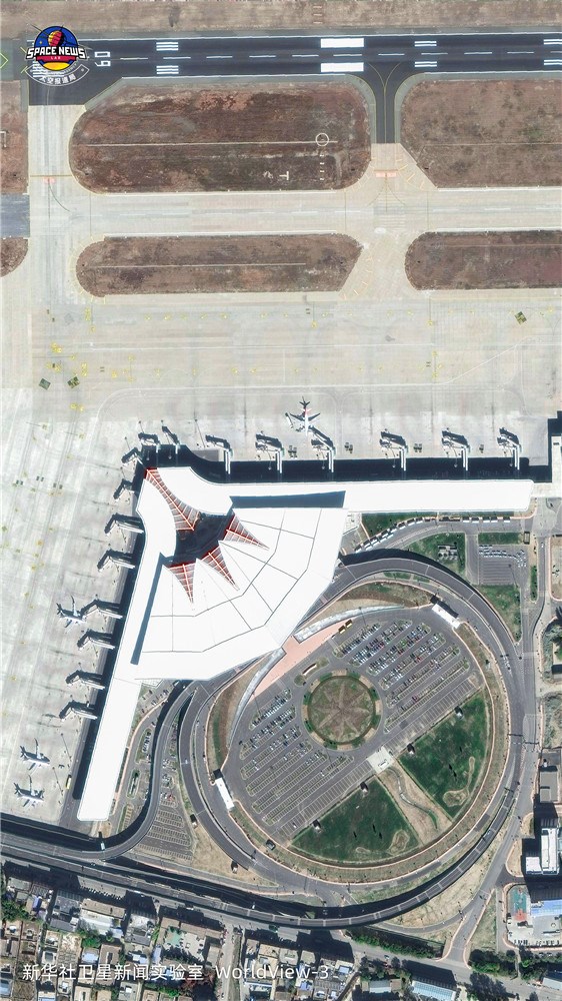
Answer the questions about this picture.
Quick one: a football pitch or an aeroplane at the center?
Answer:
aeroplane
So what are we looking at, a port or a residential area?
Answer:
residential area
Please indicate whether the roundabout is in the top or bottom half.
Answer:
bottom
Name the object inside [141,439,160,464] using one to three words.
jet bridge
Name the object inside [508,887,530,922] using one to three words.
sports court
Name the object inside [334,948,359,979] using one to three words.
house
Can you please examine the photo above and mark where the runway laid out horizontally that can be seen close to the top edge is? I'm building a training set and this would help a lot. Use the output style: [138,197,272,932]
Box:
[0,32,562,106]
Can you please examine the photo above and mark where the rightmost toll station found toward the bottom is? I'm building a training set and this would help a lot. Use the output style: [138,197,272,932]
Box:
[433,603,460,628]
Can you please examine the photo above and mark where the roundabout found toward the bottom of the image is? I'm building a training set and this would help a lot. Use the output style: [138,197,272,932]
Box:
[300,669,382,751]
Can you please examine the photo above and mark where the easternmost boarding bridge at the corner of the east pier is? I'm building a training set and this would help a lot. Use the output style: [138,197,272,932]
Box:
[497,438,518,477]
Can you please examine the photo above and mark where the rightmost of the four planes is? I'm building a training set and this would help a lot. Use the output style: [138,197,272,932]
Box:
[292,407,321,436]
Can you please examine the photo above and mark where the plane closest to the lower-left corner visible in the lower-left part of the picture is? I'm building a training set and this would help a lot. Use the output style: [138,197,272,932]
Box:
[15,783,44,810]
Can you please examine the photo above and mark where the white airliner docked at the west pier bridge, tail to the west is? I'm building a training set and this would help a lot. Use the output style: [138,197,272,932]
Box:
[58,603,85,629]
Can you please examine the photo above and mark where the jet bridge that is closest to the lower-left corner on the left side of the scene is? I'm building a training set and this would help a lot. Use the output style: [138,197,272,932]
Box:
[61,703,102,721]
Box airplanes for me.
[58,603,85,629]
[292,407,321,436]
[21,746,50,774]
[15,783,44,810]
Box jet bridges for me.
[97,552,139,571]
[380,440,406,477]
[497,438,518,477]
[61,703,102,721]
[66,671,109,691]
[442,440,467,477]
[164,431,179,464]
[78,631,119,651]
[256,442,281,479]
[206,441,231,479]
[123,453,147,471]
[141,439,160,464]
[82,600,127,621]
[113,482,141,500]
[308,427,334,479]
[106,515,145,536]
